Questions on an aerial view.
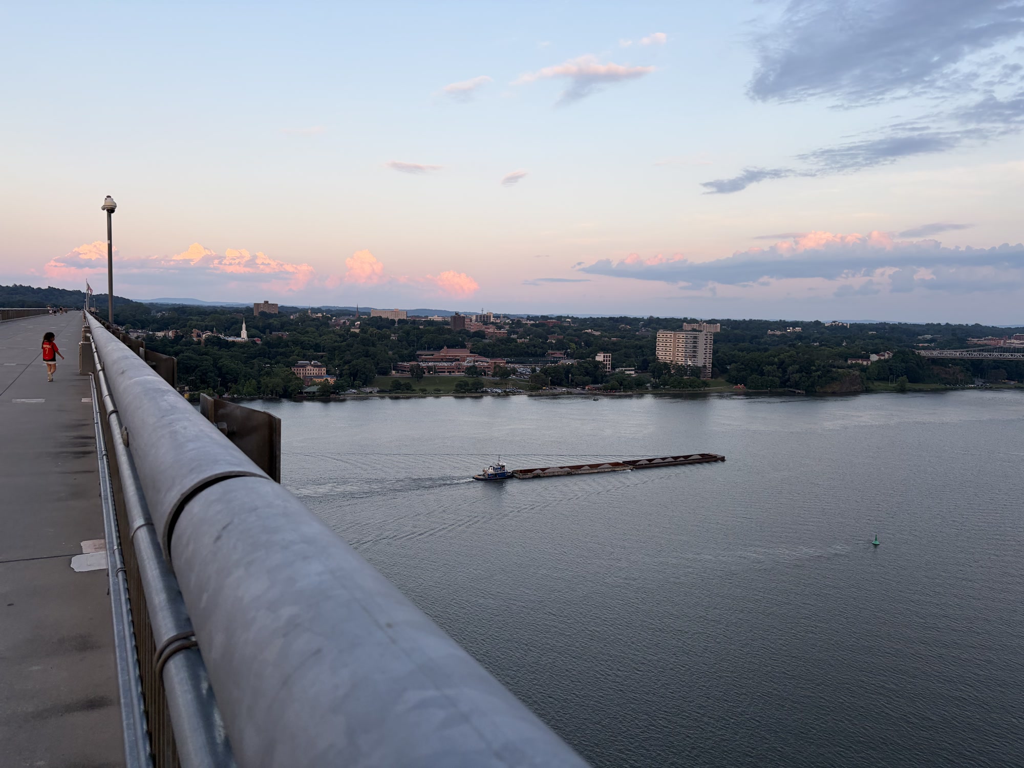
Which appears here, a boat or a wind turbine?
boat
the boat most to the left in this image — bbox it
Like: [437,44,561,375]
[470,449,511,480]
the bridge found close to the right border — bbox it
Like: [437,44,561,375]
[912,341,1024,379]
